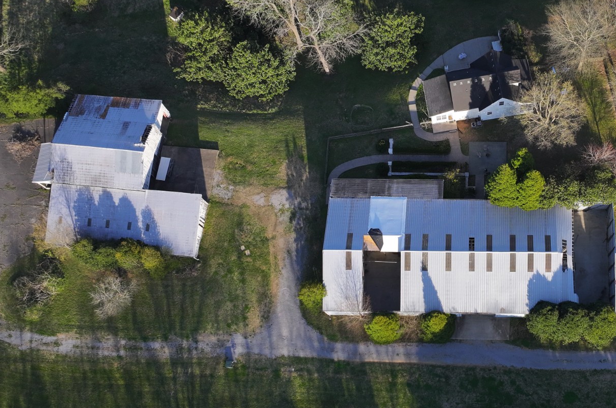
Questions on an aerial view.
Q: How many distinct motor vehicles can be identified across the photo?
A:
0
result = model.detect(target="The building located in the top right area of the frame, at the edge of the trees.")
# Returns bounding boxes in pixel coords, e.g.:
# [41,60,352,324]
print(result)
[422,47,536,136]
